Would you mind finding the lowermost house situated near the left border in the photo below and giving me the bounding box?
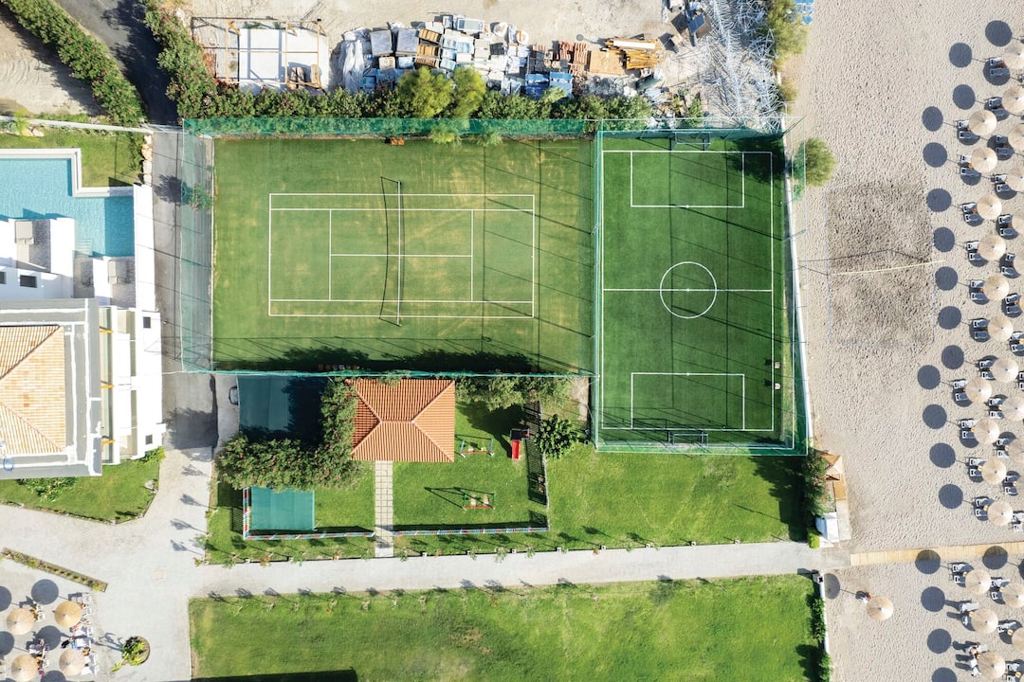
[0,184,171,478]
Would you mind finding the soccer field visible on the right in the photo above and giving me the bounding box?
[594,136,783,444]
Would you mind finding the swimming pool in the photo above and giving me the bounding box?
[0,149,132,257]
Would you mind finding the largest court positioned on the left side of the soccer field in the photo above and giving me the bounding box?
[215,135,593,369]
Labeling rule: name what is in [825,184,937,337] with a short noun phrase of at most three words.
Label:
sports court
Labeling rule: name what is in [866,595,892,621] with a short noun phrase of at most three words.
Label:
umbrella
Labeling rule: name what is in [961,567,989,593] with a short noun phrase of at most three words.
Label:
umbrella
